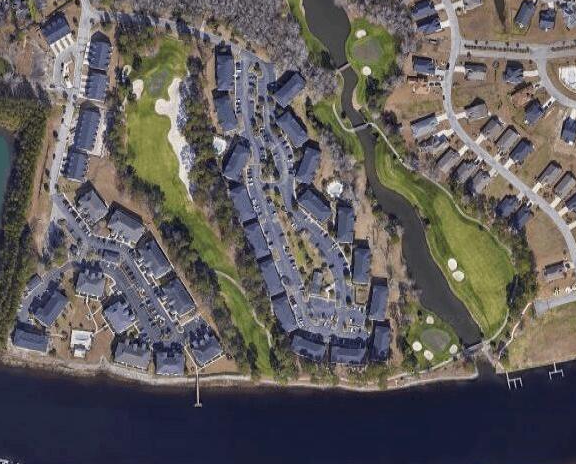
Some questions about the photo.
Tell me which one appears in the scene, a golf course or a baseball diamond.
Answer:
golf course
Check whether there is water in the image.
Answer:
Yes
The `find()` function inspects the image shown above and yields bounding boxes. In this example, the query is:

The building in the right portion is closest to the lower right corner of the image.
[541,261,565,280]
